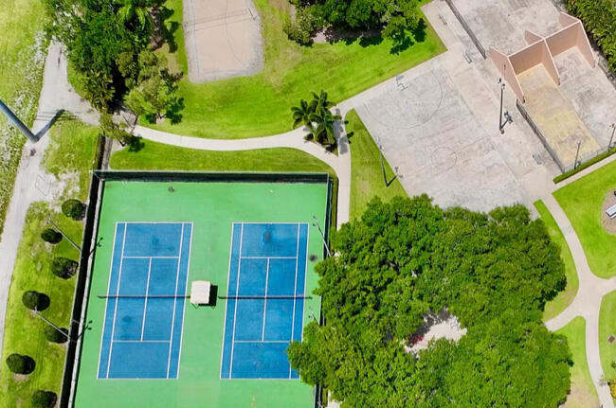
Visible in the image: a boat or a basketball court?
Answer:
basketball court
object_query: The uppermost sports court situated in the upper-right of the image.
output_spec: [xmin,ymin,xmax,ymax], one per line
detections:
[433,0,564,78]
